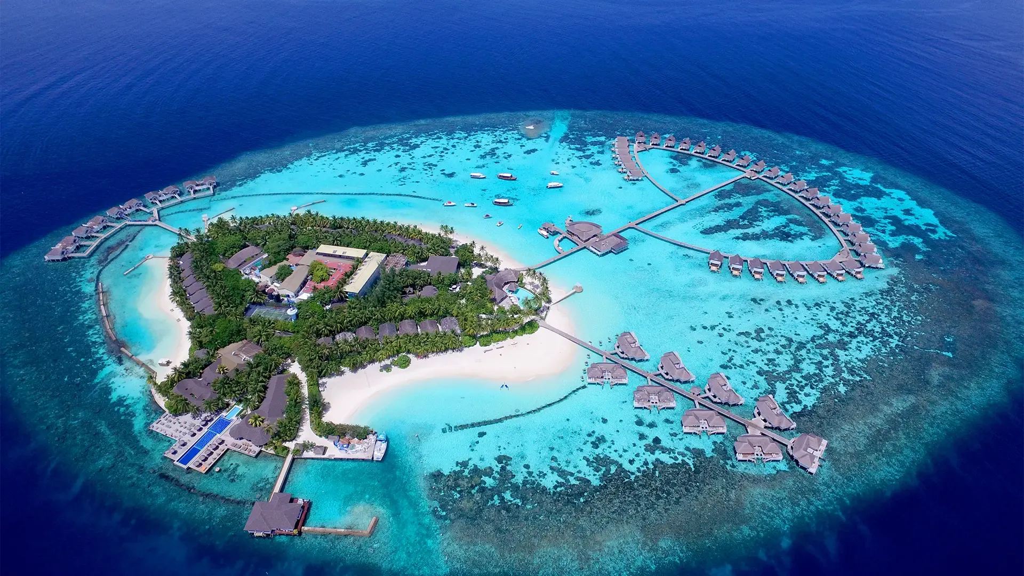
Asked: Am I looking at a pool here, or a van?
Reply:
pool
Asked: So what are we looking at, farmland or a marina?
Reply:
marina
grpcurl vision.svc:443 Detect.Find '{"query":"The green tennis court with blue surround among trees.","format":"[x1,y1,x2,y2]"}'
[246,304,291,322]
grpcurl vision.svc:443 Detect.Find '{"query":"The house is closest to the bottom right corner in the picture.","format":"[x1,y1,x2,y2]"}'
[784,434,830,485]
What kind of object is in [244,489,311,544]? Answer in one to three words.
building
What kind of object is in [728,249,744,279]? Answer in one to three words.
house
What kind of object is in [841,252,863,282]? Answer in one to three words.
house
